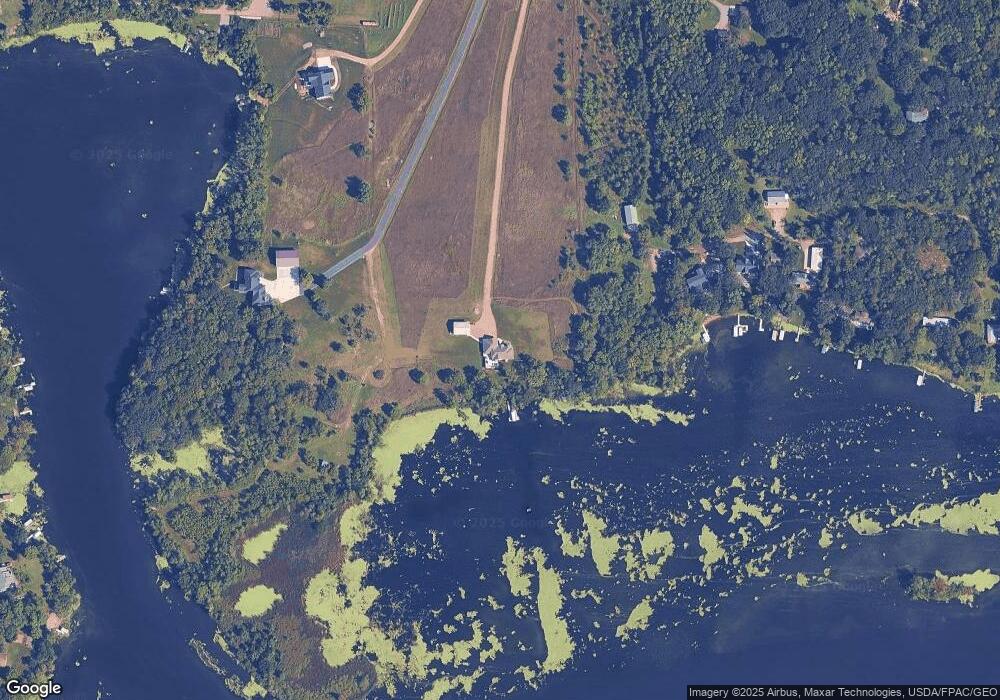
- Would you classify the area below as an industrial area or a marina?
marina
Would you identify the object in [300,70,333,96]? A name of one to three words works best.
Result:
house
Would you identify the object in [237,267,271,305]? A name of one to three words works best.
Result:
house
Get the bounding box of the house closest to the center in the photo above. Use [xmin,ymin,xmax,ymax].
[482,338,517,366]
